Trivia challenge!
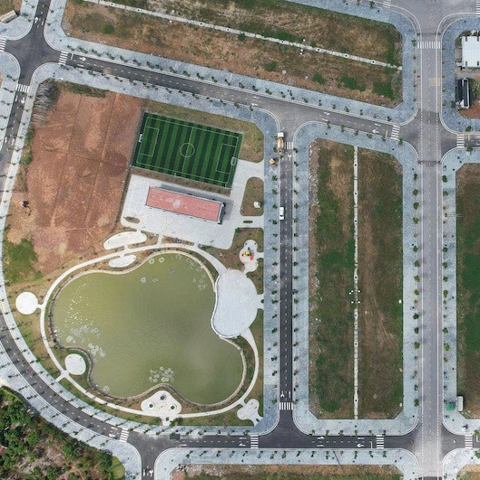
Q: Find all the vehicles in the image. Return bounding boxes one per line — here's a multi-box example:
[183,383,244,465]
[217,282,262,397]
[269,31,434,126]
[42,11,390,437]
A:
[278,206,284,219]
[277,132,283,153]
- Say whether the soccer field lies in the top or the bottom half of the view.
top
